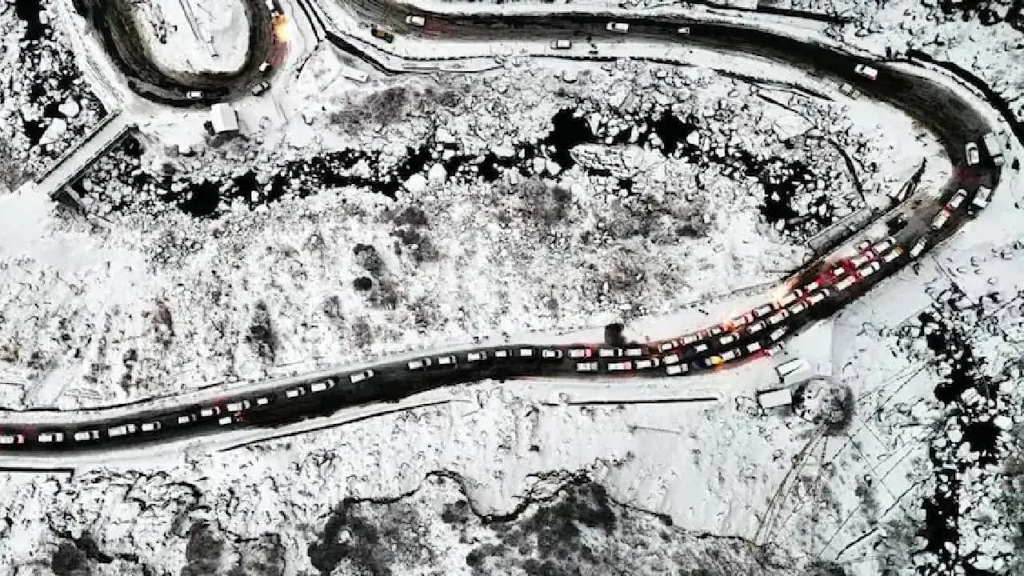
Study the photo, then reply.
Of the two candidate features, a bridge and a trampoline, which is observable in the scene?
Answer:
bridge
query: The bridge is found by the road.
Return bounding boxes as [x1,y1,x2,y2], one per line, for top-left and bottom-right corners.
[31,107,137,221]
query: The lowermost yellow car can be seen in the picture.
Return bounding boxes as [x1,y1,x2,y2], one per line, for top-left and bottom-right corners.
[706,354,726,366]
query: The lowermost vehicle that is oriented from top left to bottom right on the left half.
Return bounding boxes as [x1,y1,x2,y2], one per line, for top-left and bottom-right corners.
[372,26,393,44]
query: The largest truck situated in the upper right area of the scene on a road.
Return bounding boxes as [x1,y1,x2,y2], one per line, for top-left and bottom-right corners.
[981,131,1008,167]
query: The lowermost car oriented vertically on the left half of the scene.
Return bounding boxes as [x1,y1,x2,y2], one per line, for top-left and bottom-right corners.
[275,21,288,45]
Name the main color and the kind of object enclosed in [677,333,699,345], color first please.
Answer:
white vehicle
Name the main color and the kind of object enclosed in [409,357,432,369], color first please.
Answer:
white vehicle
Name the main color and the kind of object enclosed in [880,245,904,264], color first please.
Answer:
white car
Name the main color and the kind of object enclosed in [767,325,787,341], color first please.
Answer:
white car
